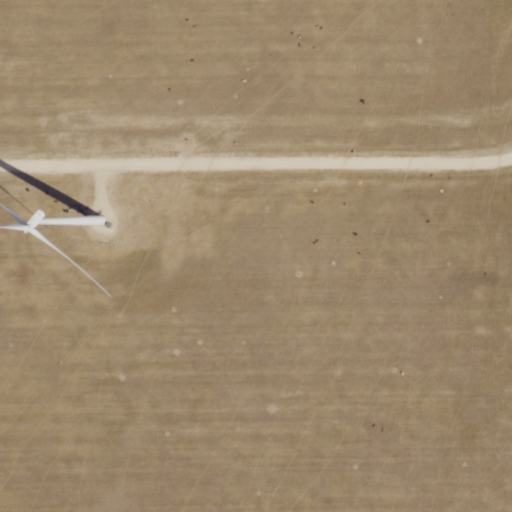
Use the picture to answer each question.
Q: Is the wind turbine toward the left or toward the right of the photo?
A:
left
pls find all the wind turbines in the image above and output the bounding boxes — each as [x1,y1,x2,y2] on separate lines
[0,204,110,295]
